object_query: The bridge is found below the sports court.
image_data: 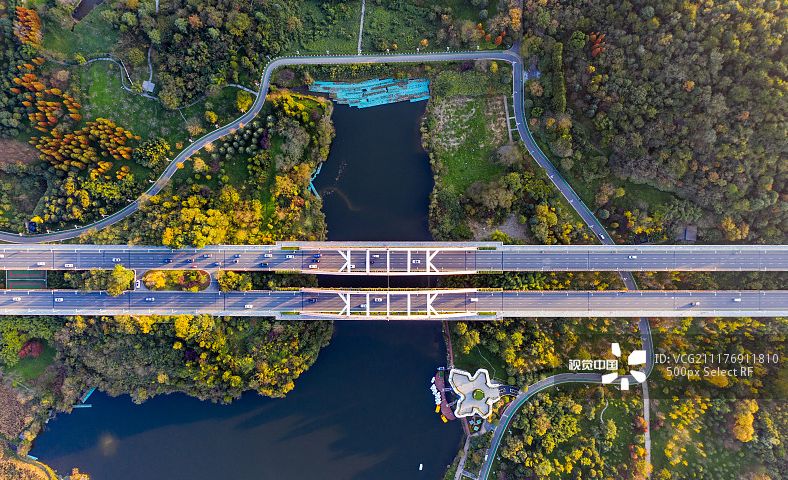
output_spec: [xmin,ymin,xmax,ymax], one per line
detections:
[0,288,788,320]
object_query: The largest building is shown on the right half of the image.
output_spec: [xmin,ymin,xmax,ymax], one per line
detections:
[449,368,520,418]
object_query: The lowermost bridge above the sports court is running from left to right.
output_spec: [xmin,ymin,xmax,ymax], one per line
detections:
[0,242,788,274]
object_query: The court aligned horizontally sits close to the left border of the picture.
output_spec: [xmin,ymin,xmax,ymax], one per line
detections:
[4,271,48,290]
